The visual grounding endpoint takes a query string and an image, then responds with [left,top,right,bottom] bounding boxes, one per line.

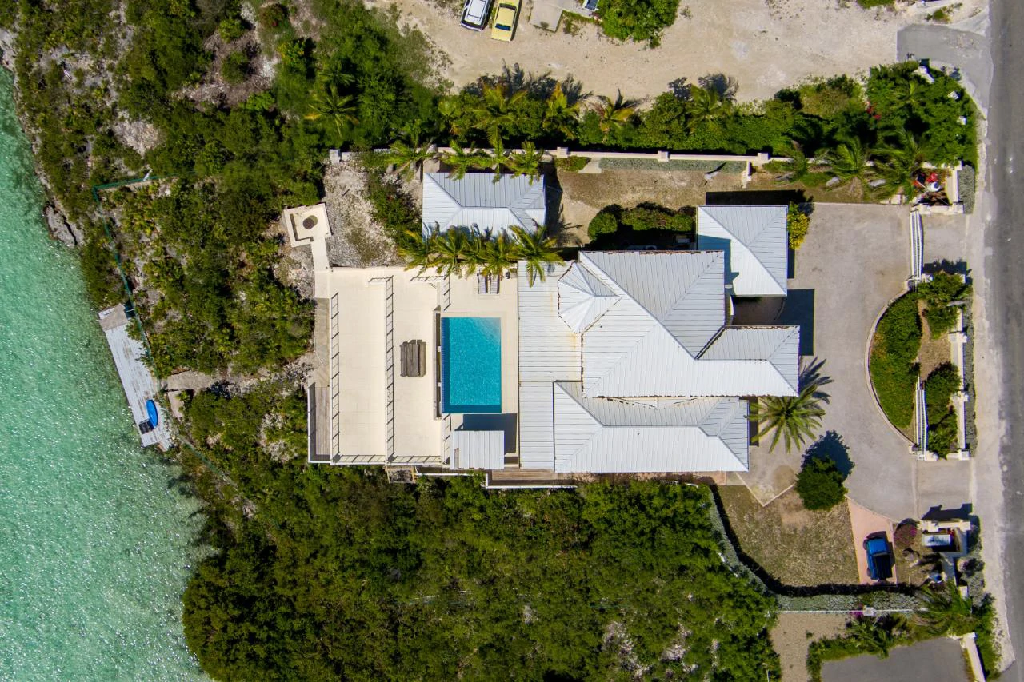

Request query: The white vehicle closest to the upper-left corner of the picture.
[459,0,493,34]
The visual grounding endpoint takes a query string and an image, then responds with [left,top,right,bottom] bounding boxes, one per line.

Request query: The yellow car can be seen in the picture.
[492,0,524,44]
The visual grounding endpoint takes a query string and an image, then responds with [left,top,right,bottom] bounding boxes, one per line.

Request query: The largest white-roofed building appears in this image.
[518,249,801,473]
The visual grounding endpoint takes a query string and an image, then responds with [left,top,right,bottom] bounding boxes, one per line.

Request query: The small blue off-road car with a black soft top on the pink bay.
[859,532,891,581]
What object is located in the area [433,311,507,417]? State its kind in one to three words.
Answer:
swimming pool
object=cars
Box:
[459,0,493,34]
[492,0,524,44]
[859,532,891,581]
